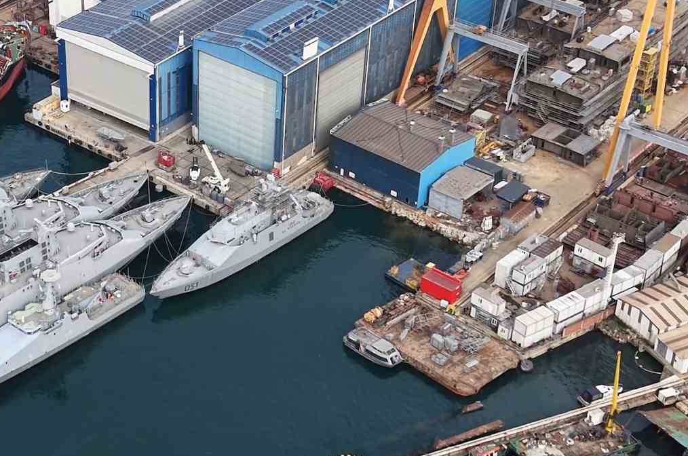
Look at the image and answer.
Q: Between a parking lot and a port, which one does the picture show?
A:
port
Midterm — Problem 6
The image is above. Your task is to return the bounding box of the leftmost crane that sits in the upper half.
[196,141,237,198]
